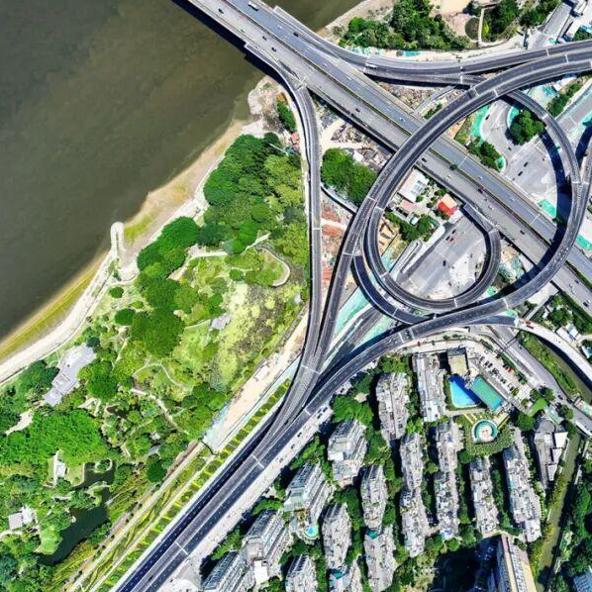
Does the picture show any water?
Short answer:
Yes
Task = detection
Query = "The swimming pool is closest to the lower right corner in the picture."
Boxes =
[472,419,498,444]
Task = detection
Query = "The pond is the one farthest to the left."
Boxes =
[37,459,116,564]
